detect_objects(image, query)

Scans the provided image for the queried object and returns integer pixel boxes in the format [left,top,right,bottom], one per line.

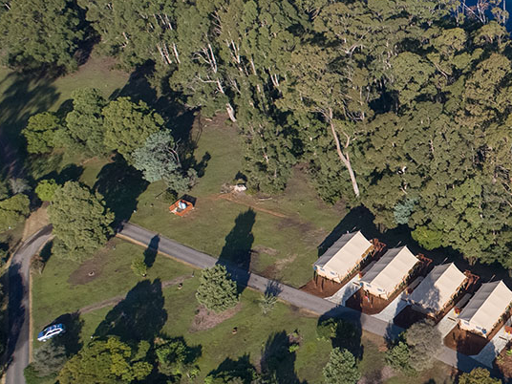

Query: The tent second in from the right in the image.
[403,262,477,331]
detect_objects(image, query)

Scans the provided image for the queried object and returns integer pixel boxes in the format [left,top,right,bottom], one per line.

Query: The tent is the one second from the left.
[357,246,431,313]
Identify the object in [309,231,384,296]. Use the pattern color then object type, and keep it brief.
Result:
white tent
